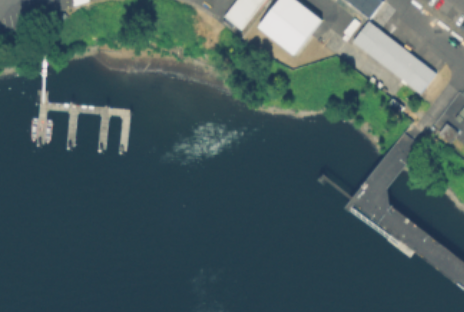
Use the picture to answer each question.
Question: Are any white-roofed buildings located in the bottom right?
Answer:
No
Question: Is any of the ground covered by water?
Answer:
Yes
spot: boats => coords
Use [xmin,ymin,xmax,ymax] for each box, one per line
[31,116,38,142]
[46,118,53,142]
